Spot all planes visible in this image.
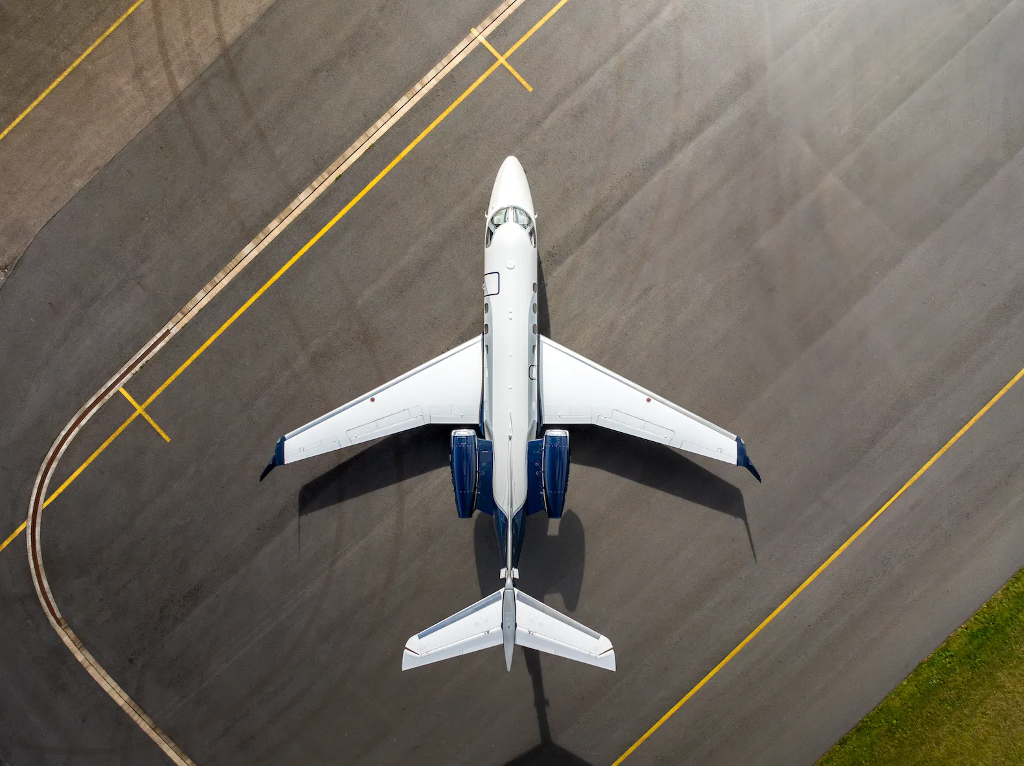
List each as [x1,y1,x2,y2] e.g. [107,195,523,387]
[259,156,761,672]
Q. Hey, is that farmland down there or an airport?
airport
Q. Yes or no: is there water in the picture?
No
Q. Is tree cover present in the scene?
No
